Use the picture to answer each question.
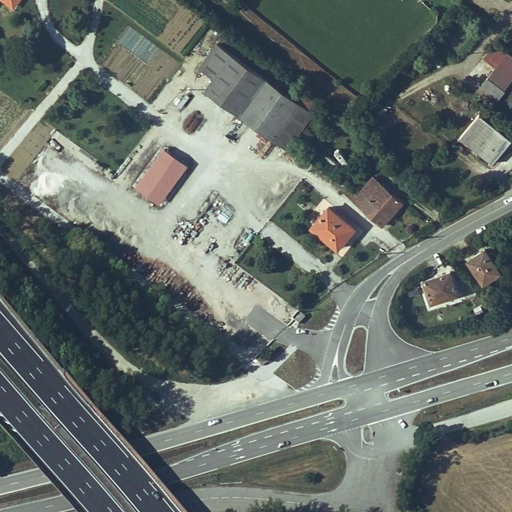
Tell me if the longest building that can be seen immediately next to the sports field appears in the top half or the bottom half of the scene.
top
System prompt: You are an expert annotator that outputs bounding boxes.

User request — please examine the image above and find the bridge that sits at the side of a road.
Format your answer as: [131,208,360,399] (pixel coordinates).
[0,295,182,512]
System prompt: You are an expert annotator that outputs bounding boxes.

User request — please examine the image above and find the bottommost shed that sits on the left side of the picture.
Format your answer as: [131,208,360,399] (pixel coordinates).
[134,149,188,206]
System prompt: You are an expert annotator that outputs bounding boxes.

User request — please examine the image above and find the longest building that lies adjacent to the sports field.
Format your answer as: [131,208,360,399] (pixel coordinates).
[200,44,310,149]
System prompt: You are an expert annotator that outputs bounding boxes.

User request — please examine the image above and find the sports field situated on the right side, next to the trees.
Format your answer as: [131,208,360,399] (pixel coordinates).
[252,0,436,95]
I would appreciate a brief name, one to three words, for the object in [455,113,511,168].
shed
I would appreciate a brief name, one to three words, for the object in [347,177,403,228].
house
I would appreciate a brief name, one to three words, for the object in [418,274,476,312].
house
